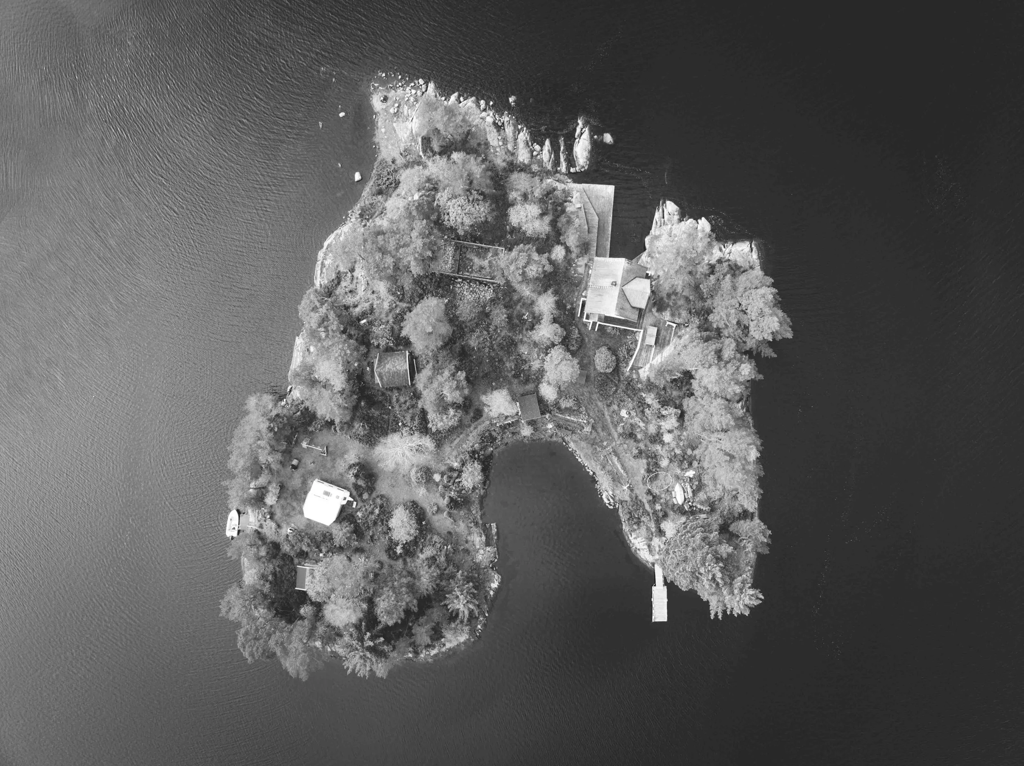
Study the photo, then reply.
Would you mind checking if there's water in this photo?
Yes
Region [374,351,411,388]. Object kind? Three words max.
shed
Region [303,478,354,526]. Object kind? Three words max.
house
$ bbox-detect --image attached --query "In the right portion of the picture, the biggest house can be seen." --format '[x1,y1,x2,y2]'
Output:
[584,257,650,322]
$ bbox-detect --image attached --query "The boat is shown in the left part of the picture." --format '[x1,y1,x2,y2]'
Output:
[226,509,239,540]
